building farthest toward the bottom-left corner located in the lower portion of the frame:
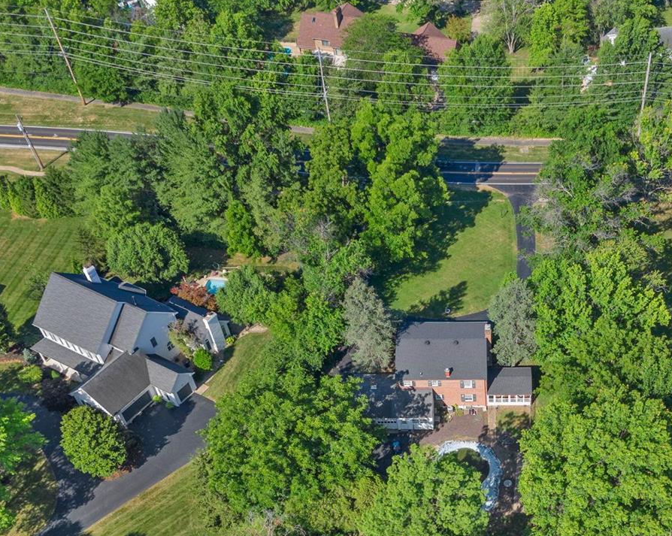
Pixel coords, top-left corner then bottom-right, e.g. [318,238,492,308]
[27,261,235,426]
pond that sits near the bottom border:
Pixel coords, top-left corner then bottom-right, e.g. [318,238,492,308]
[442,437,502,512]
